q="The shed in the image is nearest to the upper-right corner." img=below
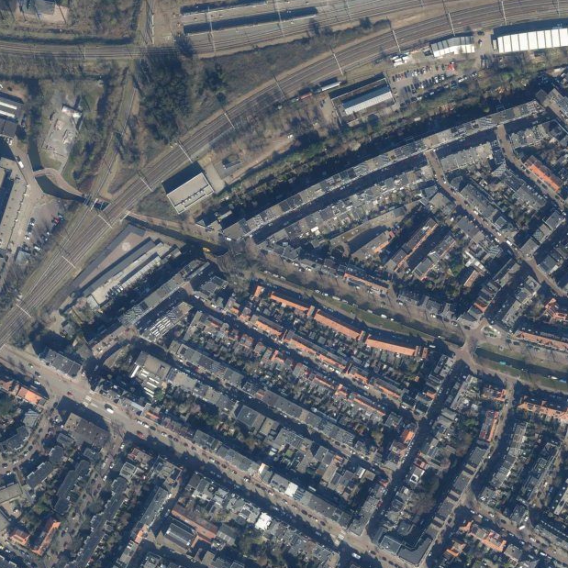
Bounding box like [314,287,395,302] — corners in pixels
[526,29,568,50]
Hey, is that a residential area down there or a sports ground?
residential area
